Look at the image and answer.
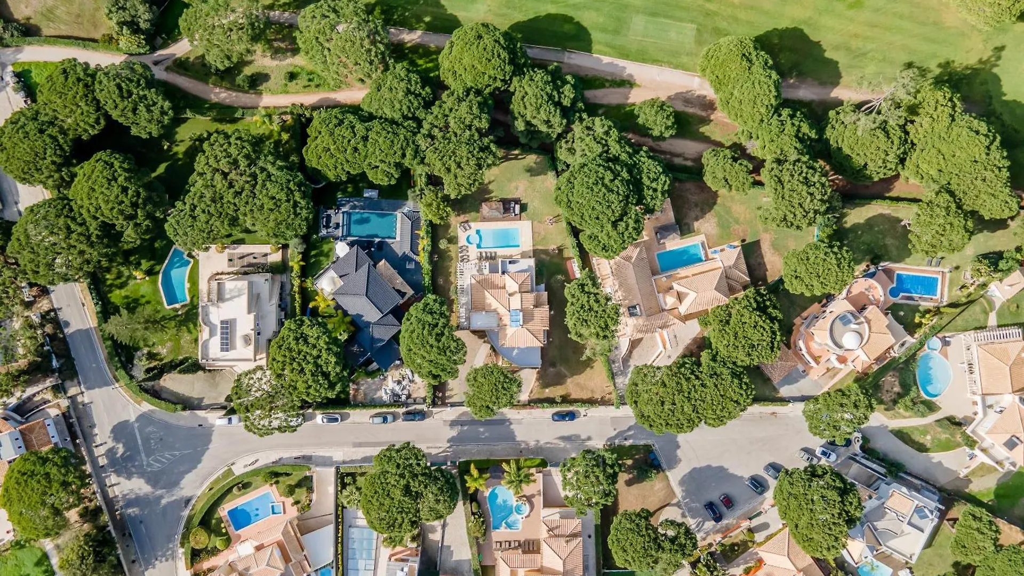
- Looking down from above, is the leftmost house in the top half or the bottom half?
bottom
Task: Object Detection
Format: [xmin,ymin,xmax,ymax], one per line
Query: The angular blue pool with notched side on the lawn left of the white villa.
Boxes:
[157,243,195,311]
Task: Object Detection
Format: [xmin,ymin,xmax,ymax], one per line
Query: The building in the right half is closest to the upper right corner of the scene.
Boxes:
[982,267,1024,302]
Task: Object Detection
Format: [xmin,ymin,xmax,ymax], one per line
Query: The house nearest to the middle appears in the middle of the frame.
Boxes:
[456,221,549,367]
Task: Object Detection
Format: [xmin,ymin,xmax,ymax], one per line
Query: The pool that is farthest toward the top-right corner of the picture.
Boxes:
[887,270,943,301]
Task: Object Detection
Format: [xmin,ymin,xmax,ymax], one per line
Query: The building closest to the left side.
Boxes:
[0,380,84,488]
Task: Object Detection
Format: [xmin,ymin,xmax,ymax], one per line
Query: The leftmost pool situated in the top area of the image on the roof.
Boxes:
[340,209,399,240]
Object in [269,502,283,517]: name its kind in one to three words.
swimming pool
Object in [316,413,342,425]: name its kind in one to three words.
vehicle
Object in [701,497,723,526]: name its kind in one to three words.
car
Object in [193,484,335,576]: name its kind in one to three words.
house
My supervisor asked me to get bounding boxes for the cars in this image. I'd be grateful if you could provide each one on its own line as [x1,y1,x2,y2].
[794,447,819,462]
[369,413,395,425]
[744,472,767,496]
[401,410,427,422]
[316,413,342,425]
[718,490,734,512]
[701,497,723,526]
[760,459,783,480]
[812,444,838,462]
[552,410,577,423]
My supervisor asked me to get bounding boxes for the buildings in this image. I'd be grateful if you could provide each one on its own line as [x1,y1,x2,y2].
[590,198,750,369]
[456,221,549,367]
[913,326,1024,471]
[827,451,944,576]
[982,267,1024,302]
[0,380,84,488]
[199,245,287,373]
[735,528,822,576]
[478,467,583,576]
[789,264,946,387]
[193,484,335,576]
[315,199,422,370]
